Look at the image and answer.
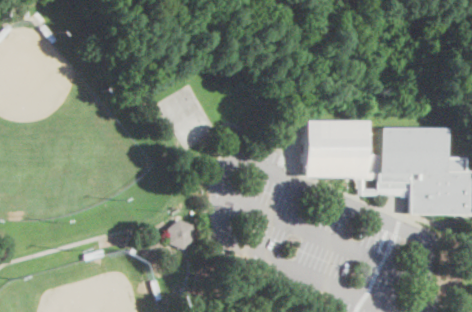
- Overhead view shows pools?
No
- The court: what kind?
basketball court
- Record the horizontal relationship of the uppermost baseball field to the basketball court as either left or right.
to the left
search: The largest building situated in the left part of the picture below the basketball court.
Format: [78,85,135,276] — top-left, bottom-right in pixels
[168,222,194,248]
